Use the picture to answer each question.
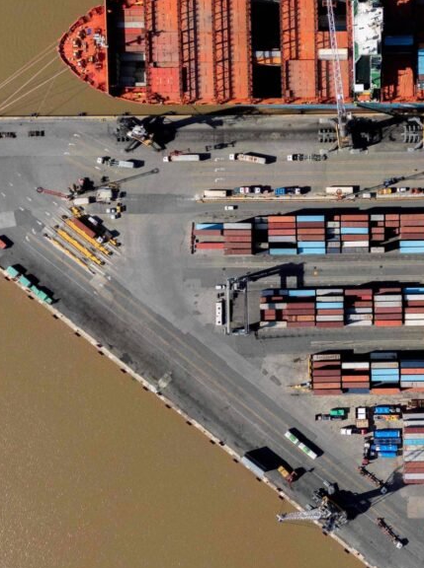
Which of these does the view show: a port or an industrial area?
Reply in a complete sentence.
What you see here is a port.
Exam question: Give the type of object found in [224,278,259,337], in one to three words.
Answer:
container crane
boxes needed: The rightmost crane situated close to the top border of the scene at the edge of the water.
[322,0,362,156]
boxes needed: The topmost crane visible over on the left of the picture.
[116,111,163,152]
